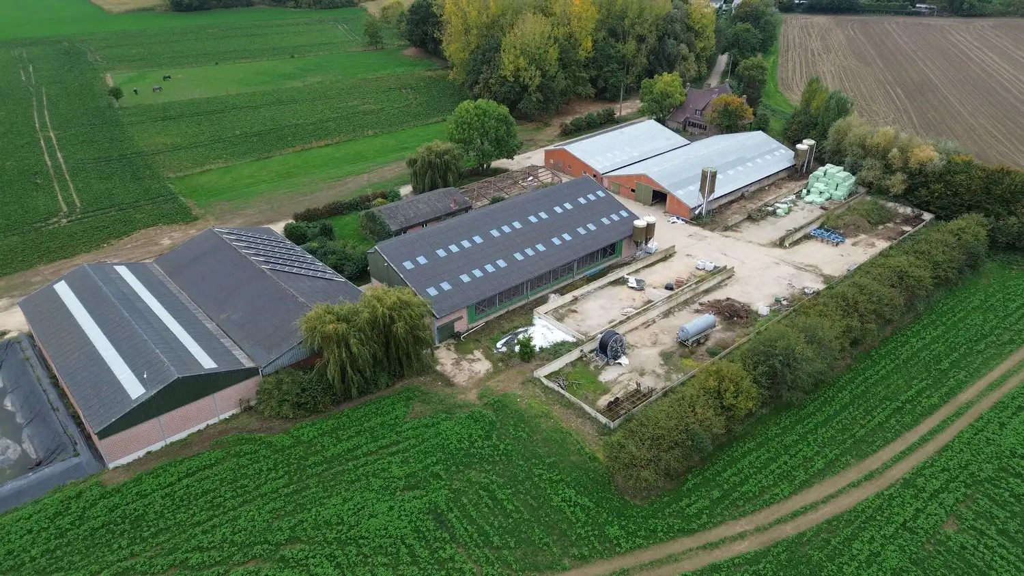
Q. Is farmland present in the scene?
Yes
